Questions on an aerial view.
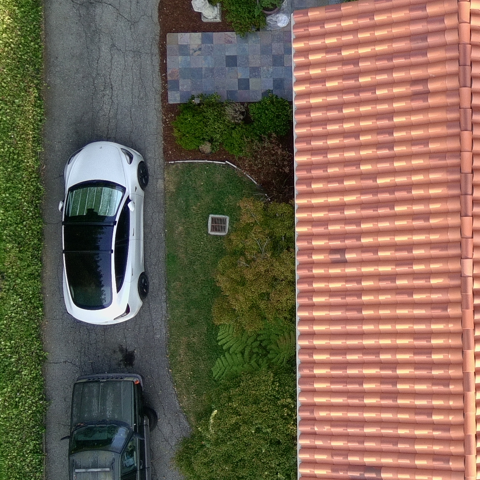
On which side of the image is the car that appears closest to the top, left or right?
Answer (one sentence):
You can find the car that appears closest to the top on the left side of the picture.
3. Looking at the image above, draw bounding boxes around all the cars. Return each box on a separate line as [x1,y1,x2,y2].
[59,372,166,480]
[58,143,156,326]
